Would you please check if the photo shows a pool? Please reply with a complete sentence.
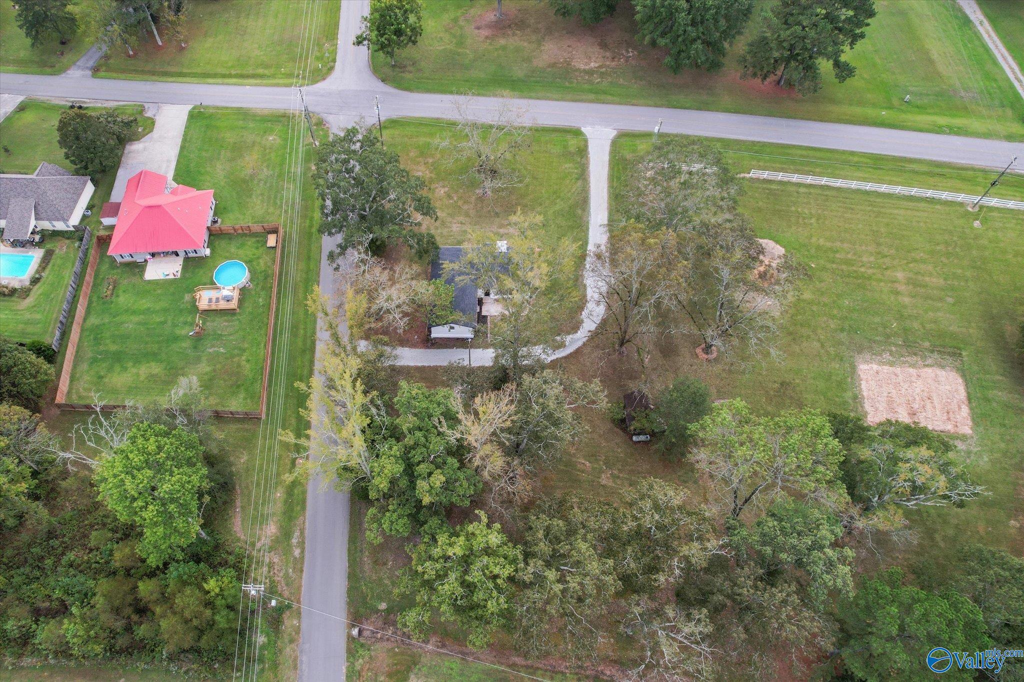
Yes, a pool is visible in the scene.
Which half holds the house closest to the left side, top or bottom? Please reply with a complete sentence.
Seen from above, the house closest to the left side lies in the top half of the view.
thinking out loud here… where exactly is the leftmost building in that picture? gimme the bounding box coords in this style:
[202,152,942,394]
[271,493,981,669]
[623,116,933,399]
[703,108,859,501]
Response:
[0,162,97,247]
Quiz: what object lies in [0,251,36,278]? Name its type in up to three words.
swimming pool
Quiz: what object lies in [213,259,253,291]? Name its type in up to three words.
swimming pool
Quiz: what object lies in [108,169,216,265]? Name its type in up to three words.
house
